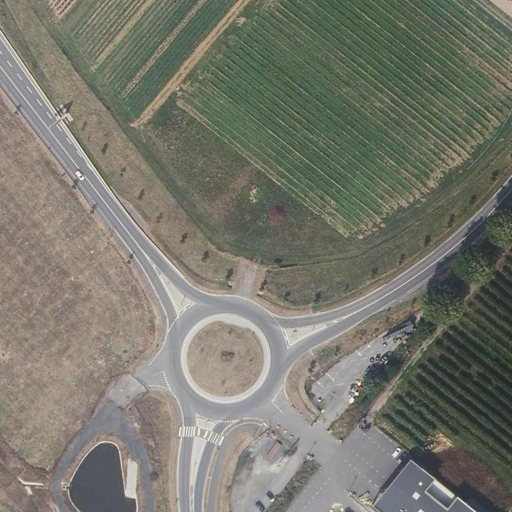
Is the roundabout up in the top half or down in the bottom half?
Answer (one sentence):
The roundabout is in the bottom half of the image.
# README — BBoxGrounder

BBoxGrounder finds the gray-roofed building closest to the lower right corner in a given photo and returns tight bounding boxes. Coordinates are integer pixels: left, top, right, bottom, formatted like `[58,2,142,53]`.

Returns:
[373,459,475,512]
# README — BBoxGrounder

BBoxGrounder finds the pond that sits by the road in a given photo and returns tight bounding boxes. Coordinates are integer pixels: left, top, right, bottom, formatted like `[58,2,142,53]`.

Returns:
[61,442,138,512]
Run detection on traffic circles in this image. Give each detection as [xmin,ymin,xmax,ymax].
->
[164,295,288,421]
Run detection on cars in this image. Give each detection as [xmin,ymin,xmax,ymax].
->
[398,452,408,463]
[256,500,265,512]
[362,422,370,432]
[266,490,274,501]
[76,169,85,180]
[392,448,401,459]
